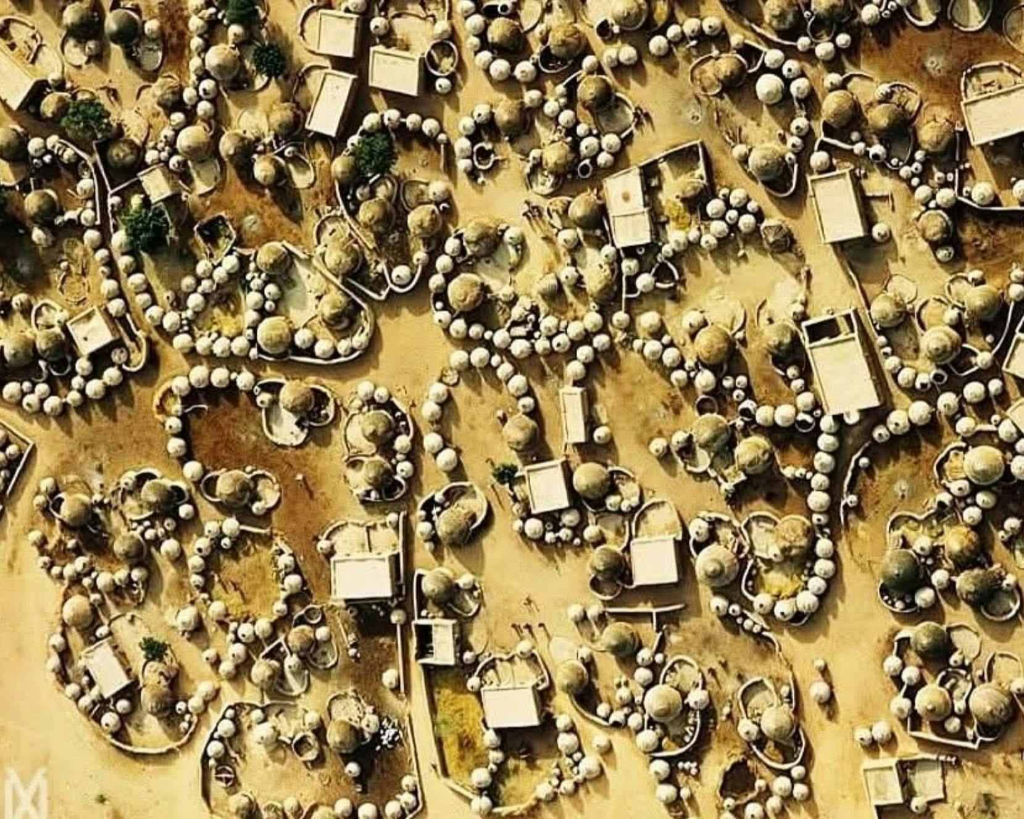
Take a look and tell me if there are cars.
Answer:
No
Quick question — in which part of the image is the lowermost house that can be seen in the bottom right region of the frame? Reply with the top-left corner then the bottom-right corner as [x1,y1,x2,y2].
[863,754,905,804]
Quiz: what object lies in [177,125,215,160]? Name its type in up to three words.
shed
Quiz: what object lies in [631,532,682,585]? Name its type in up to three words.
house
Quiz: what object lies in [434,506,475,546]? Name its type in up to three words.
shed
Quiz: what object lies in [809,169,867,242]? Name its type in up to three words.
house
